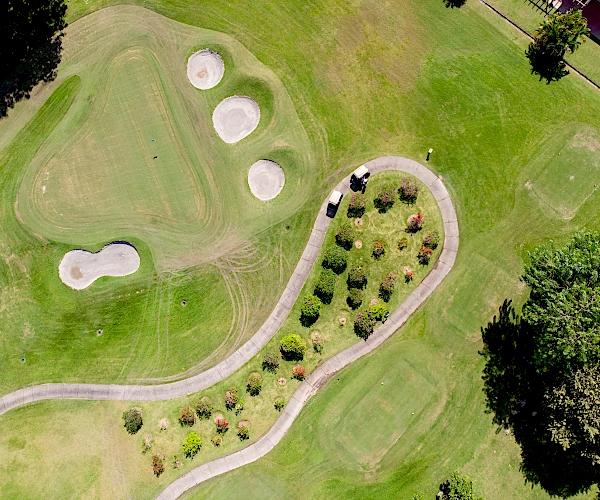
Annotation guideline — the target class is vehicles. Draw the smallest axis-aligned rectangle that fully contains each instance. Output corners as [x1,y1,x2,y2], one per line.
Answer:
[327,191,342,209]
[351,164,370,182]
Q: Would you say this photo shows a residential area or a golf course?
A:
golf course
